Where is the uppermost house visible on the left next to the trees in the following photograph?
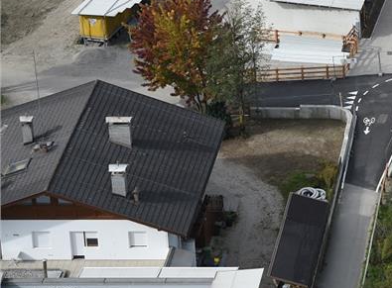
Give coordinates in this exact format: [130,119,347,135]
[0,71,229,268]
